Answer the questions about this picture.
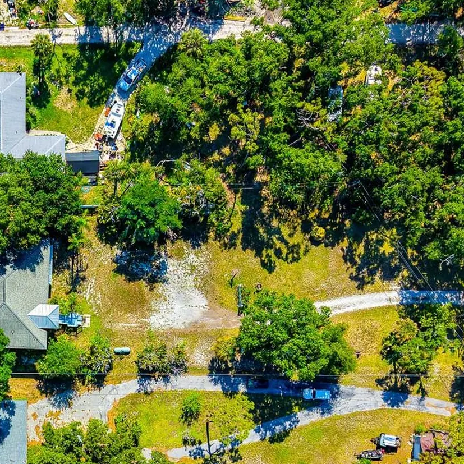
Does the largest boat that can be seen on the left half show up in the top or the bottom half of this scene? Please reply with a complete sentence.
The largest boat that can be seen on the left half is in the top half of the image.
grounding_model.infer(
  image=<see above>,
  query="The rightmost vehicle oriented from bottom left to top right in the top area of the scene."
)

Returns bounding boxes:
[119,60,143,93]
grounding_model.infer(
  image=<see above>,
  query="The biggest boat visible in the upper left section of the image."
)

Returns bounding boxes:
[101,100,123,140]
